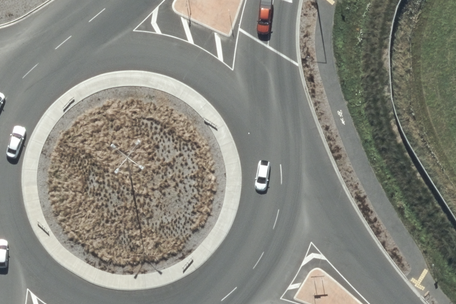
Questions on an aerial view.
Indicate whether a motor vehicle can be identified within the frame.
Yes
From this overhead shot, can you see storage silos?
No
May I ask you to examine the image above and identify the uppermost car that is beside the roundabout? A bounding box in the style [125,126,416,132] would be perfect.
[6,126,25,160]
